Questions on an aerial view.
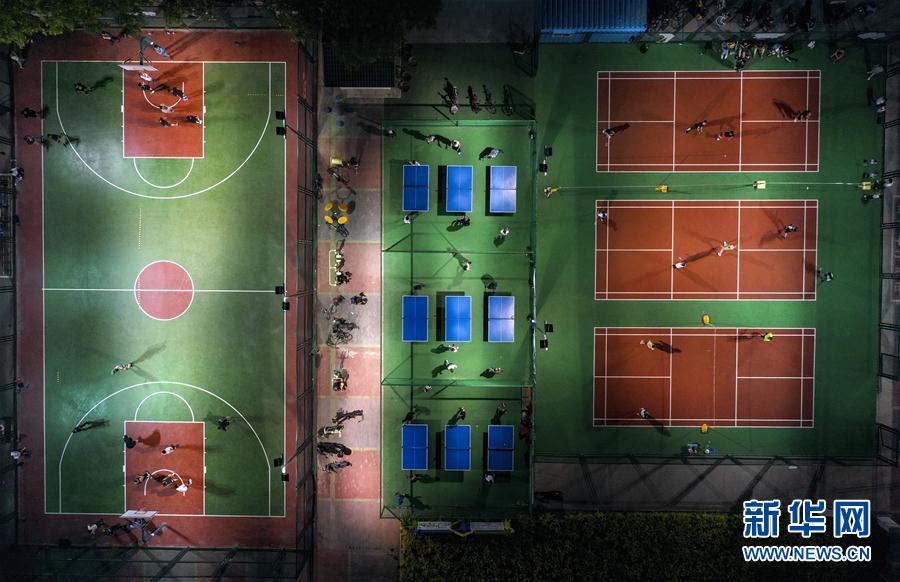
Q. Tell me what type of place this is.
sports ground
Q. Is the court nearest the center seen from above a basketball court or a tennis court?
tennis court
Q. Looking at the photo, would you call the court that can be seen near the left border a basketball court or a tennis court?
basketball court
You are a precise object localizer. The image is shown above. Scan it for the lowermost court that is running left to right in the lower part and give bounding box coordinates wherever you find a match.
[593,327,815,428]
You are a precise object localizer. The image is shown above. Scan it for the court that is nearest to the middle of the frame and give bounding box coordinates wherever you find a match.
[381,121,534,517]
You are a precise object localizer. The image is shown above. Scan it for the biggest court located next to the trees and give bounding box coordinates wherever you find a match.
[19,31,314,546]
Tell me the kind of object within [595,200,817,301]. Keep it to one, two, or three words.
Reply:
sports court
